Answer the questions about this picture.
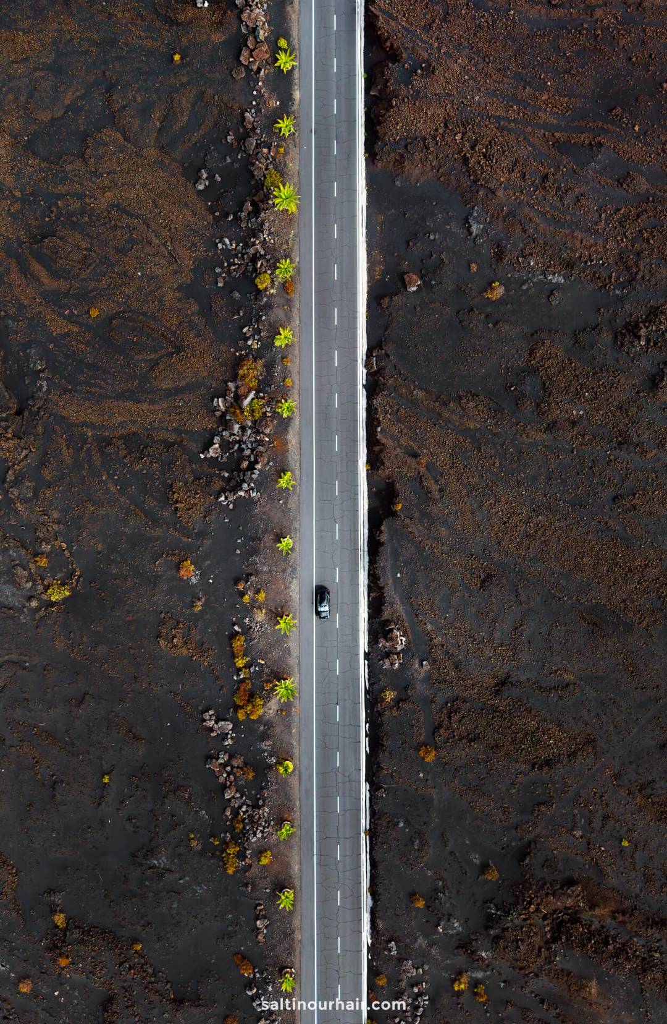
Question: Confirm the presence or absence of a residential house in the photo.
No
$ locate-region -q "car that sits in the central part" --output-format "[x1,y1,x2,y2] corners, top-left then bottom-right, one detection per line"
[313,586,331,619]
